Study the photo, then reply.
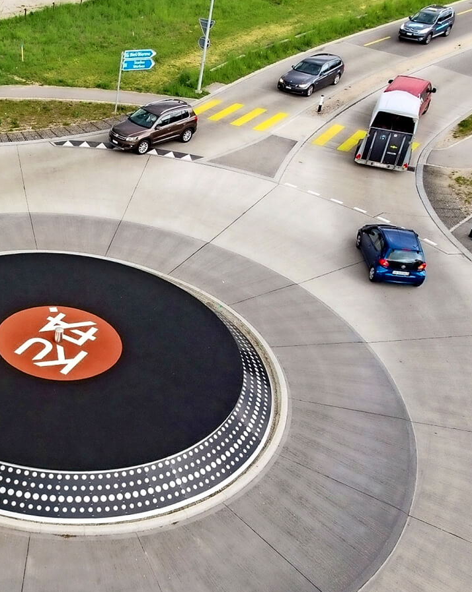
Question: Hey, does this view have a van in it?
Yes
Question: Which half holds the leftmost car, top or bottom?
top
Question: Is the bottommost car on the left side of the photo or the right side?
right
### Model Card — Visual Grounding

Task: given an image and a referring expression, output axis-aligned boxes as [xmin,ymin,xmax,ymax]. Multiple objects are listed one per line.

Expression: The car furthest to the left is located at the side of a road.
[107,95,201,154]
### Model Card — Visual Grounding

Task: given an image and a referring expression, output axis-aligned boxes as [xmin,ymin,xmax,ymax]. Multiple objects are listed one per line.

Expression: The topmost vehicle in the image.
[396,0,459,43]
